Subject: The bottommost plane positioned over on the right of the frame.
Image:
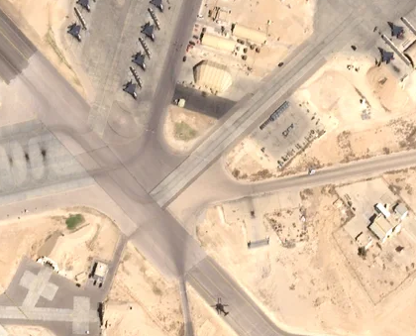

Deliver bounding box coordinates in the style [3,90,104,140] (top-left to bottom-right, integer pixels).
[379,48,394,64]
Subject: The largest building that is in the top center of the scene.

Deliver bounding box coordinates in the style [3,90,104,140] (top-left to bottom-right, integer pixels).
[192,60,232,92]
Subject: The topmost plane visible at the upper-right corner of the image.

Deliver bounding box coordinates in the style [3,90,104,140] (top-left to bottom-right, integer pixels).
[390,21,405,38]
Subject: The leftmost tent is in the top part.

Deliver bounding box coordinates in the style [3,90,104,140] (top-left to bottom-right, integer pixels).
[200,33,235,52]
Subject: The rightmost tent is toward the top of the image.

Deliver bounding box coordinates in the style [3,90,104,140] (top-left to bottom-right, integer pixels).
[232,23,265,43]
